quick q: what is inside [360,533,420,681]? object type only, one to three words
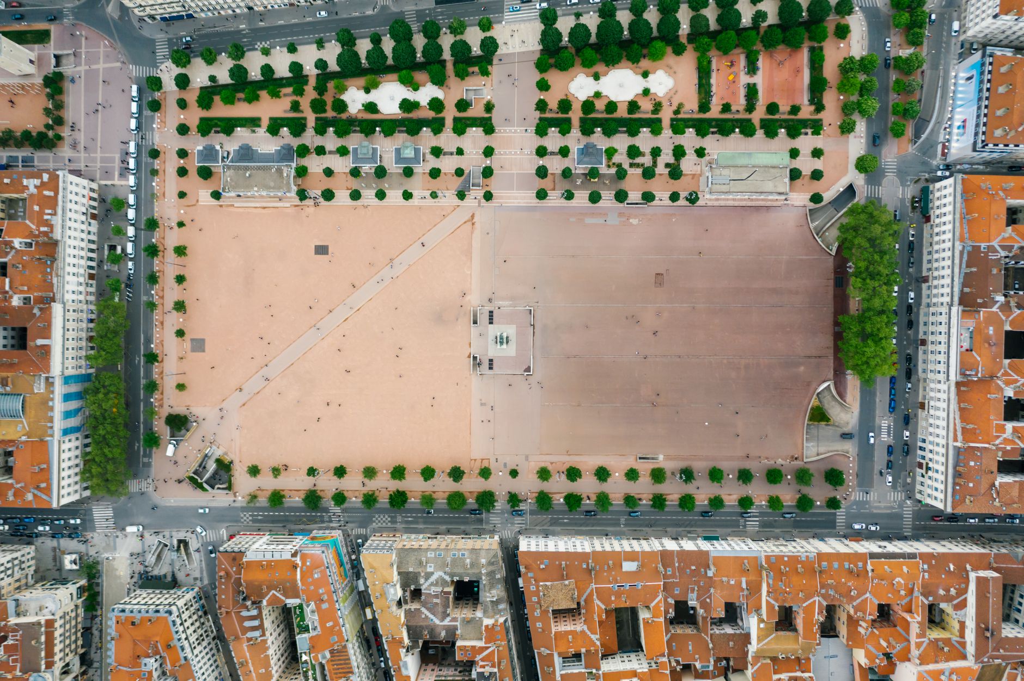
building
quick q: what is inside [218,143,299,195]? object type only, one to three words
building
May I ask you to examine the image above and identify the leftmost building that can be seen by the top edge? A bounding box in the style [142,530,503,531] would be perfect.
[0,34,36,75]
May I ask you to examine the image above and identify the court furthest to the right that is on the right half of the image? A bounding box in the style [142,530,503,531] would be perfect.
[763,47,804,104]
